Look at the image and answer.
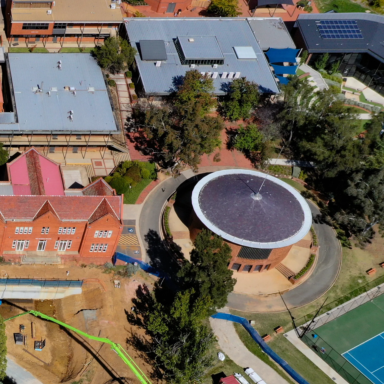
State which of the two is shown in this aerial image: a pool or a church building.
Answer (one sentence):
I can see a church building in this picture.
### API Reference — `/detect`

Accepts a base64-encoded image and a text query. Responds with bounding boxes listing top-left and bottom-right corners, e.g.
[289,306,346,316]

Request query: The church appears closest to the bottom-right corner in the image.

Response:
[188,152,313,274]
